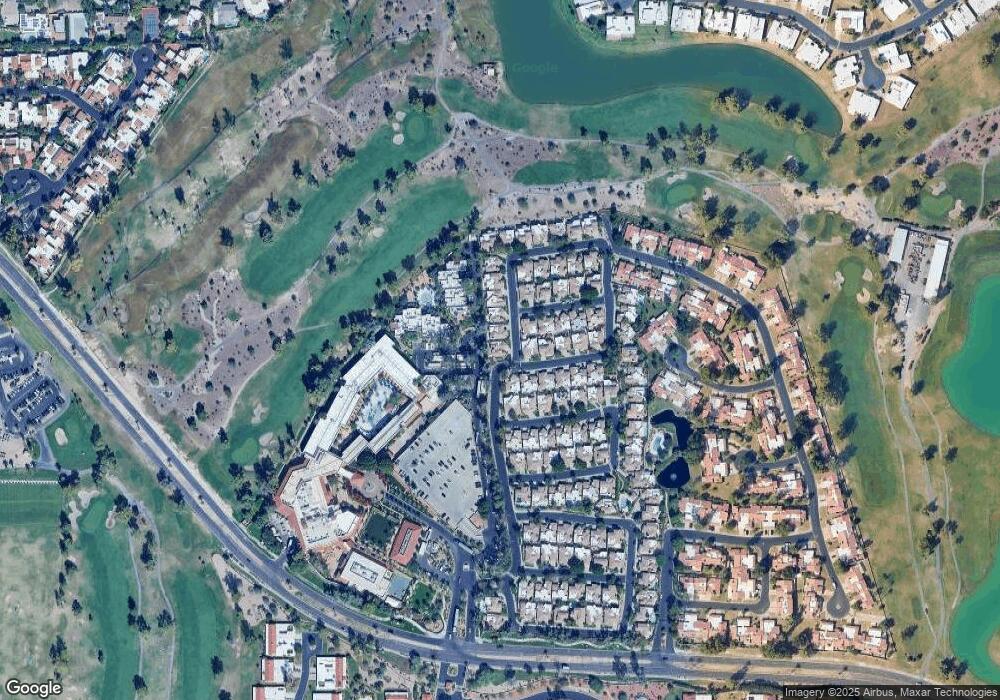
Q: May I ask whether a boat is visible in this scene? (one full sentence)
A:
No, the scene contains no boat.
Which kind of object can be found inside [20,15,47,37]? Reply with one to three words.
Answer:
house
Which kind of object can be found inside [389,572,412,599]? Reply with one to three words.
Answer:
sports court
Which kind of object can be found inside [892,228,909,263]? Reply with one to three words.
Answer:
shed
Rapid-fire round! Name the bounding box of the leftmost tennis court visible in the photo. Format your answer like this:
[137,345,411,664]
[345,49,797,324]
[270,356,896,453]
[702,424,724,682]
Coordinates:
[142,8,159,43]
